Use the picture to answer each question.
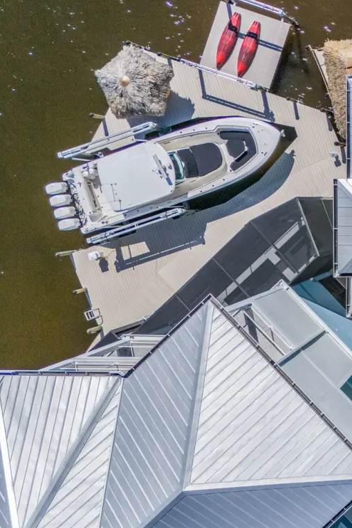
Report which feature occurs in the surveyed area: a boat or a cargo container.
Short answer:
boat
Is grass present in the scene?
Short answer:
No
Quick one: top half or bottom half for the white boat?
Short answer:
top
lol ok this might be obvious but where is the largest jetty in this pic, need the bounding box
[53,36,344,342]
